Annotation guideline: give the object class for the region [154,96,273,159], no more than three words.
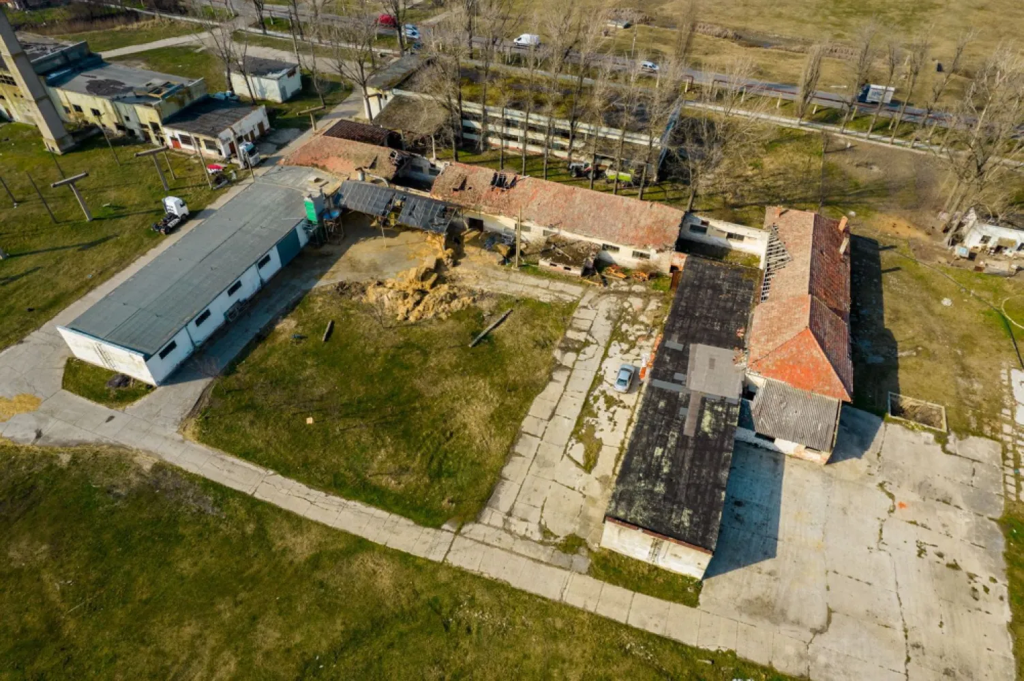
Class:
building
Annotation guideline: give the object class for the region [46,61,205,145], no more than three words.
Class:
building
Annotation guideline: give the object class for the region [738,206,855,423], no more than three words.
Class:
house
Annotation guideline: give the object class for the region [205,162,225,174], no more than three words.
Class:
vehicle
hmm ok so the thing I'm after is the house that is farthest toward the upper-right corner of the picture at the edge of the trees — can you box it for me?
[944,213,1024,259]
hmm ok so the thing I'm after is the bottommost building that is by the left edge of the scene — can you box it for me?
[50,182,335,387]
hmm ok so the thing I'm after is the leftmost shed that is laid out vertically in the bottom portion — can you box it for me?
[599,255,762,581]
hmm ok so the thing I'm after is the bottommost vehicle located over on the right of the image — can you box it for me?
[616,362,635,391]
